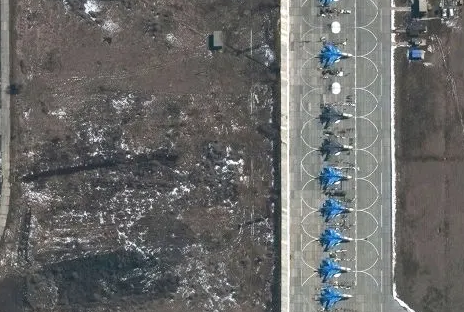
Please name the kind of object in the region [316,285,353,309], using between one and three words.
airplane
